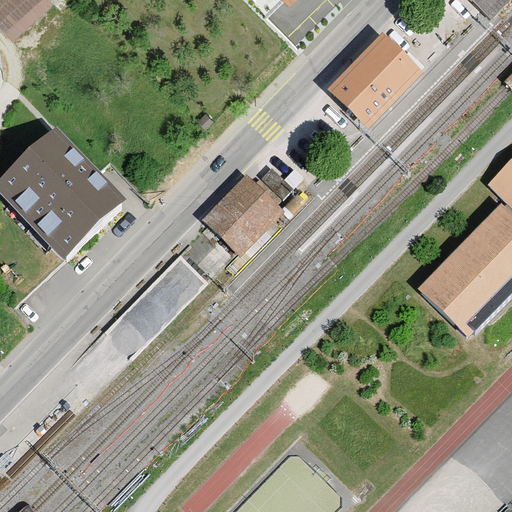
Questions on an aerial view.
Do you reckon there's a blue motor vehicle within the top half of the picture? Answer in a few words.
Yes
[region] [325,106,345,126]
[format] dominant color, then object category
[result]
white vehicle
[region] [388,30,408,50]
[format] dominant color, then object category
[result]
white vehicle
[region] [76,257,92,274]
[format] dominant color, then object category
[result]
white car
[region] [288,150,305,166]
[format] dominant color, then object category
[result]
black car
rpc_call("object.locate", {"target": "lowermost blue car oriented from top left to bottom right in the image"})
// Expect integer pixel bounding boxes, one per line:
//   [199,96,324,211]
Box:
[274,158,290,174]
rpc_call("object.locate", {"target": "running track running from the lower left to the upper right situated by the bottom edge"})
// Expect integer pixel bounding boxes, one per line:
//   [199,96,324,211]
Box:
[368,365,512,512]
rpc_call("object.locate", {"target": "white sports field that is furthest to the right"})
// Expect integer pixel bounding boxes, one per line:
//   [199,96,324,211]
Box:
[400,458,508,512]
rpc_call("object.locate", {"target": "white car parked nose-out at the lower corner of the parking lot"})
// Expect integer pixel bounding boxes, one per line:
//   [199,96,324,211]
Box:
[21,304,38,322]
